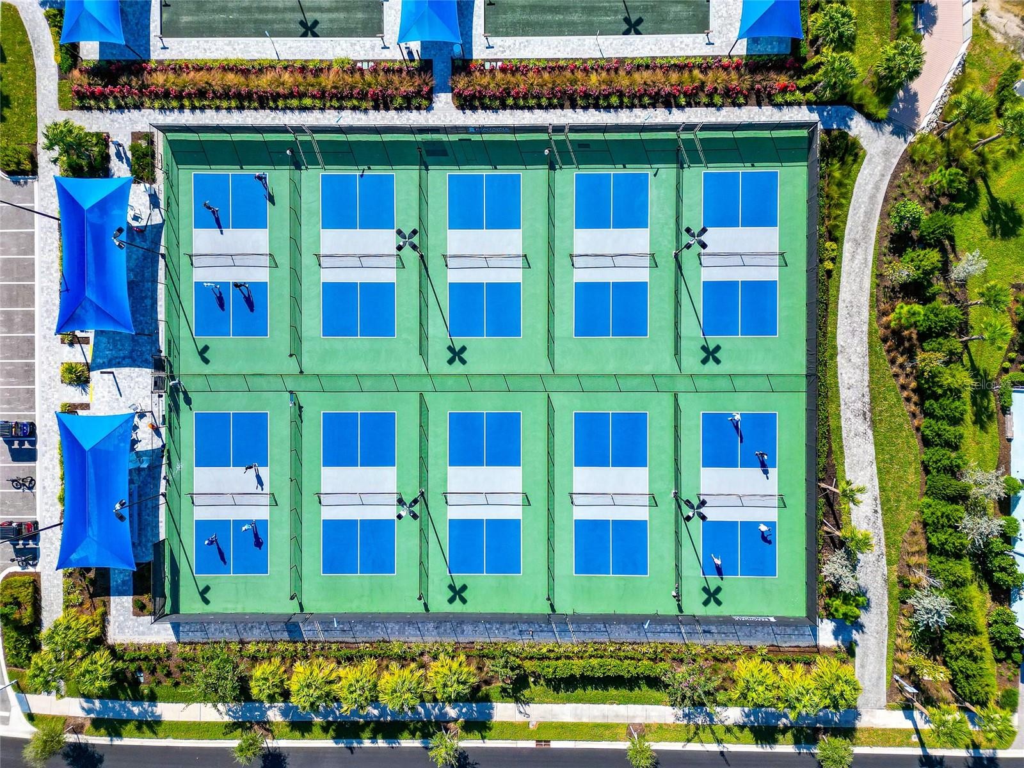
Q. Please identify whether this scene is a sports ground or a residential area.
sports ground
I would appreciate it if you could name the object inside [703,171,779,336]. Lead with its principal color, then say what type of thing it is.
blue sports court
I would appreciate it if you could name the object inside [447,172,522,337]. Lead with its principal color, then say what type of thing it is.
blue sports court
